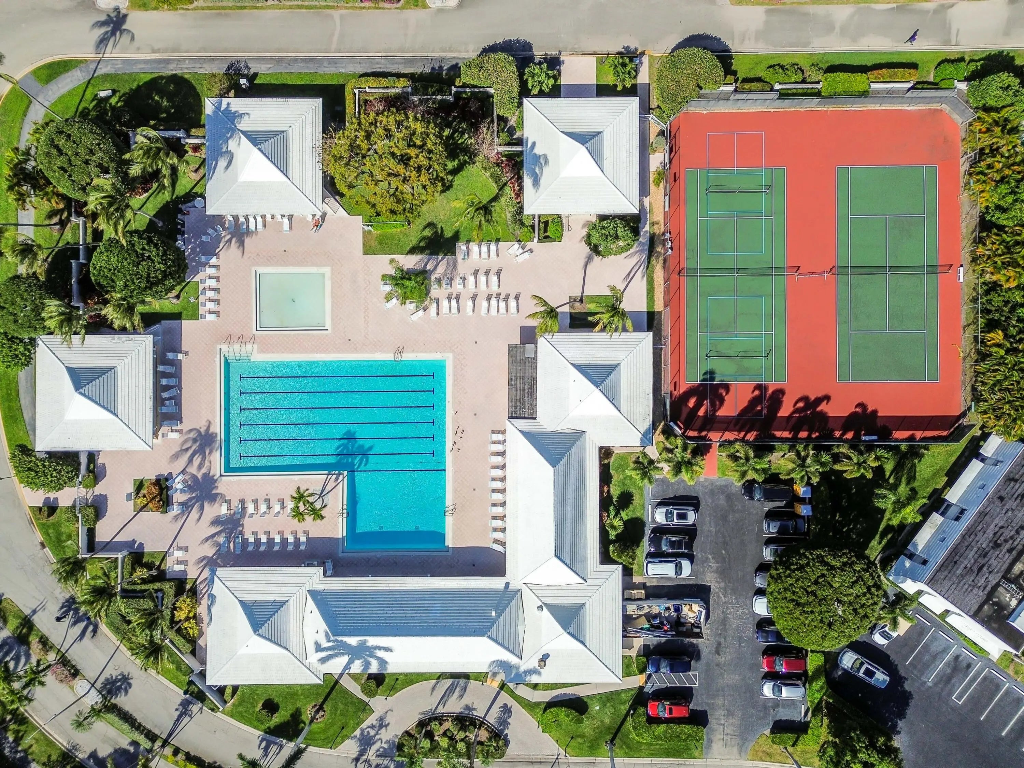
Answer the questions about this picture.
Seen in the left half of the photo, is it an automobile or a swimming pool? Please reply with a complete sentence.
What appears in the left half of the photo is a swimming pool.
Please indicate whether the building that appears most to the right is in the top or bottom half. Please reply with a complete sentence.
The building that appears most to the right is in the bottom half of the image.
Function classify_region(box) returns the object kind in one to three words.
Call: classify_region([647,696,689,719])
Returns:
car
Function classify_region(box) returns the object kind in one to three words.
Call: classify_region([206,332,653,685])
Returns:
building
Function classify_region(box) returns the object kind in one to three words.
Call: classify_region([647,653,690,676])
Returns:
car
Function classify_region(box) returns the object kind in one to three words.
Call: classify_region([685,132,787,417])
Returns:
tennis court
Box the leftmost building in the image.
[35,335,157,451]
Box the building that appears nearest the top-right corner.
[523,97,639,214]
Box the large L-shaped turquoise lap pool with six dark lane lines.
[216,345,454,556]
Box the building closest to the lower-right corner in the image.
[887,434,1024,668]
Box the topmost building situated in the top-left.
[205,97,323,215]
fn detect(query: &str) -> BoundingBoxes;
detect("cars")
[762,515,804,536]
[752,594,779,616]
[742,481,792,504]
[644,556,690,579]
[753,563,785,584]
[647,533,693,555]
[868,617,899,643]
[839,649,887,687]
[654,505,697,526]
[760,677,804,700]
[647,696,689,719]
[754,625,797,647]
[647,653,690,676]
[762,542,805,561]
[761,652,805,675]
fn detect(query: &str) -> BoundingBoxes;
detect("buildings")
[206,332,653,685]
[523,97,639,214]
[887,434,1024,668]
[35,335,157,451]
[205,97,323,215]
